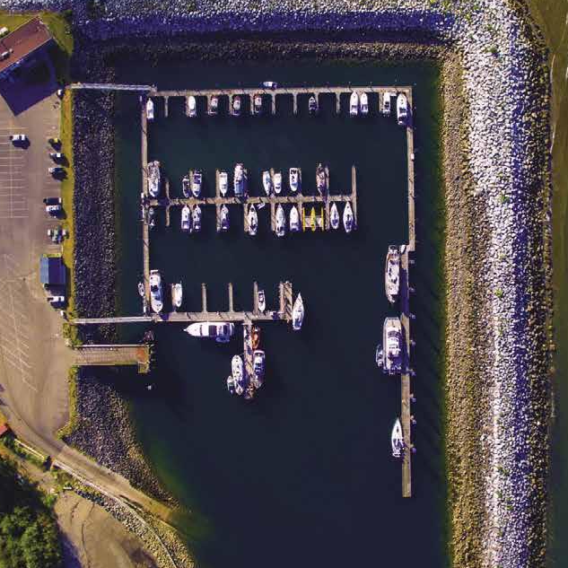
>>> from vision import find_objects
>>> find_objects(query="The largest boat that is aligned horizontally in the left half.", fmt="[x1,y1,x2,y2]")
[185,321,237,338]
